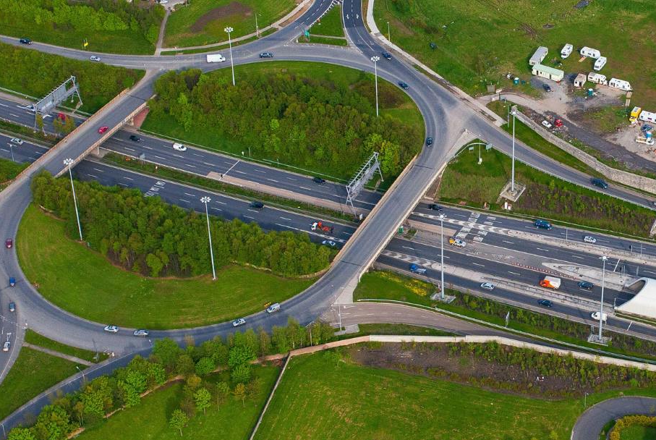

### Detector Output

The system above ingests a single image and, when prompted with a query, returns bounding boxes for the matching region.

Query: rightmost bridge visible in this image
[331,153,448,278]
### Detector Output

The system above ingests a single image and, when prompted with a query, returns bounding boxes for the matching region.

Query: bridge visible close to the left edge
[17,87,156,181]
